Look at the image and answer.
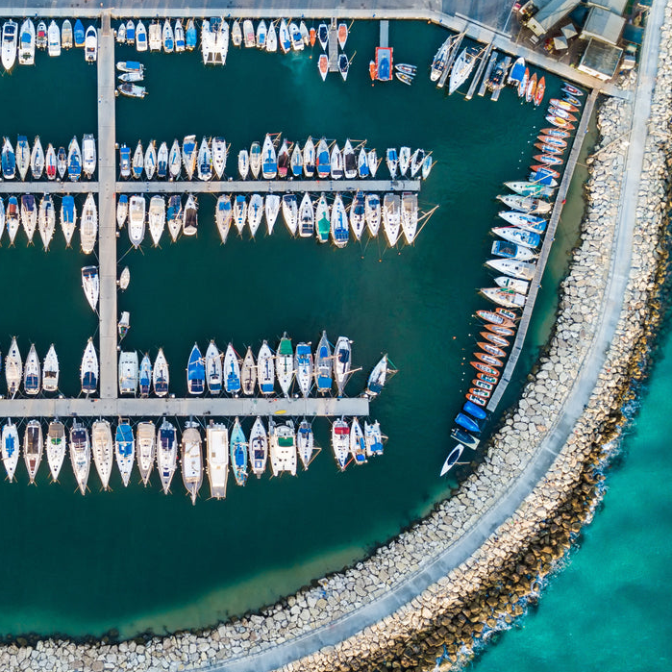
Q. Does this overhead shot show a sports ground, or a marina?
marina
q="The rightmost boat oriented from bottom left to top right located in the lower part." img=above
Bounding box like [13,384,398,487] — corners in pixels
[440,443,464,476]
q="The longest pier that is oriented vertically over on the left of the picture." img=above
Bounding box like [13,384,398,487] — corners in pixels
[97,41,116,398]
